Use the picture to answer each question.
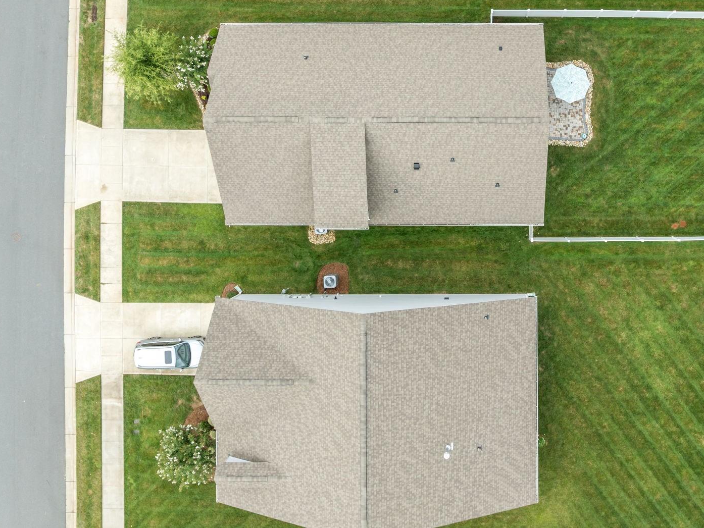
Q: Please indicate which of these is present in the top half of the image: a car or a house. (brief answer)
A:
house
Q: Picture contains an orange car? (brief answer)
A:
No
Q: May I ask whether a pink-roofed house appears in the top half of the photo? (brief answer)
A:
No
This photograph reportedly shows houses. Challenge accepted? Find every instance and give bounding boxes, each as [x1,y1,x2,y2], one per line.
[195,279,538,528]
[204,21,548,230]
